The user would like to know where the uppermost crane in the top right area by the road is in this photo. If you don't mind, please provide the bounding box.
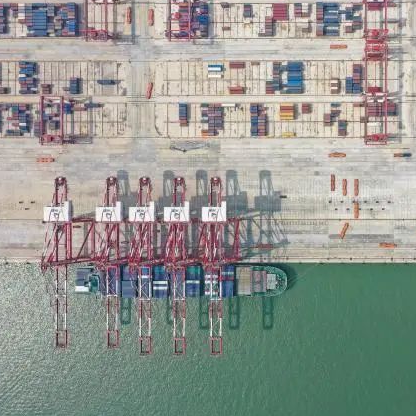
[362,0,388,42]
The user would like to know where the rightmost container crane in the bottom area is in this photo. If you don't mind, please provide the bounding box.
[201,174,243,355]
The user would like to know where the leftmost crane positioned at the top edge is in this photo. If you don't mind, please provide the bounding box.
[85,0,121,45]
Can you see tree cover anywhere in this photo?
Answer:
No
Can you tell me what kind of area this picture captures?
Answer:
port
